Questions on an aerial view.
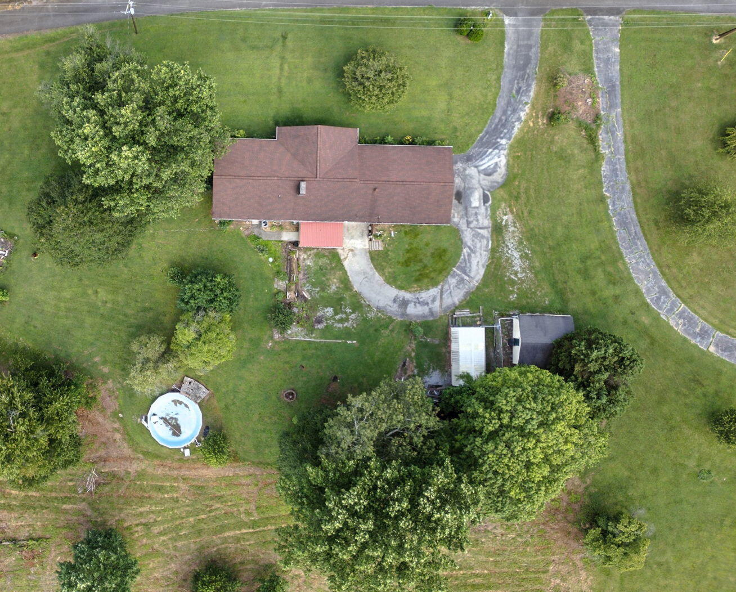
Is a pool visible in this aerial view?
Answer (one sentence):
Yes, looking at the shot, I can spot a pool.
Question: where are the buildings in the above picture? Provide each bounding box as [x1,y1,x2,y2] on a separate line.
[510,314,574,366]
[445,326,486,386]
[212,126,454,248]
